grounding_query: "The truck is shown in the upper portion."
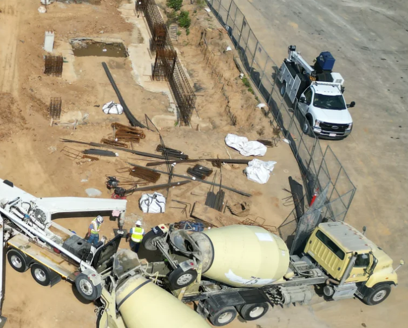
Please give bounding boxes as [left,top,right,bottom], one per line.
[293,43,369,138]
